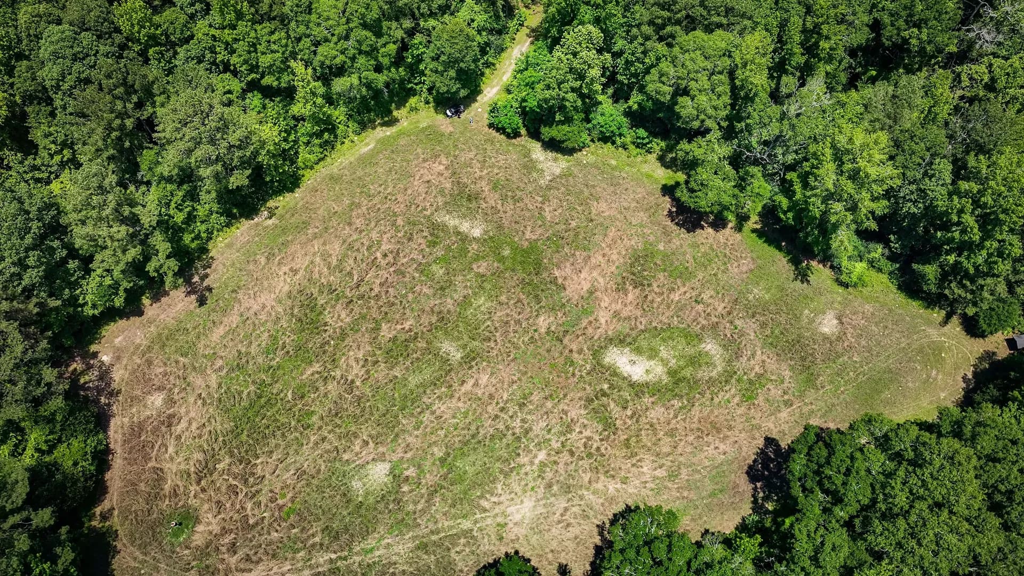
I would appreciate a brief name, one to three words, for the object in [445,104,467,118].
car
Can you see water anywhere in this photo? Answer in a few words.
No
